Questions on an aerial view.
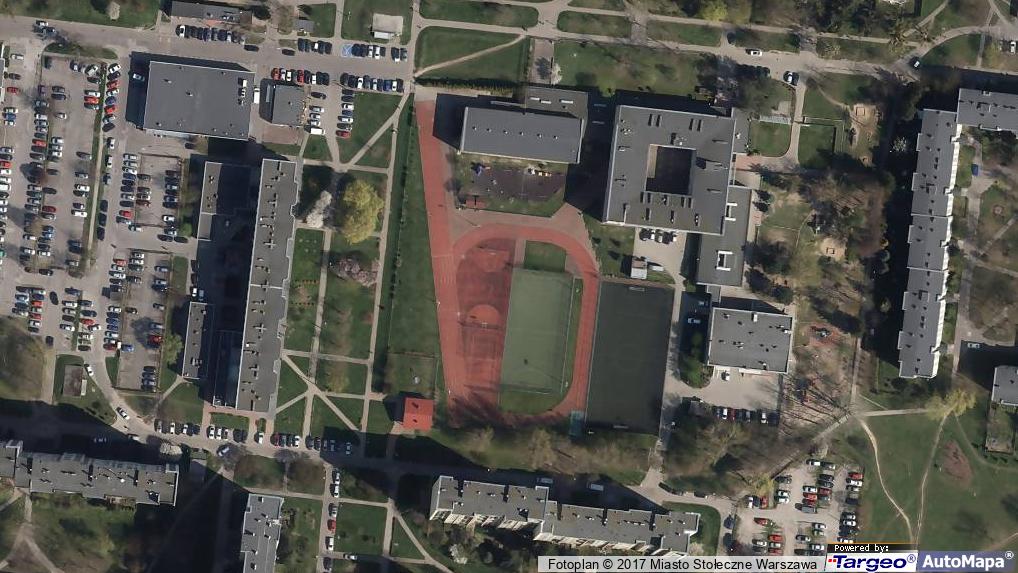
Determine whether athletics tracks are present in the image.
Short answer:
Yes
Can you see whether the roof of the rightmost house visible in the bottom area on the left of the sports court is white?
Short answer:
No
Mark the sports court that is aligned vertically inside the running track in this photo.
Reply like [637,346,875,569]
[456,239,517,412]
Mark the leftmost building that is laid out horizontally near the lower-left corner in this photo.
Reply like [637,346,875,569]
[0,441,185,513]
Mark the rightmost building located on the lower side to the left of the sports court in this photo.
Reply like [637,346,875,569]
[402,398,434,432]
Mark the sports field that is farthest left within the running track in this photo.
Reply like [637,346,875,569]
[500,268,574,392]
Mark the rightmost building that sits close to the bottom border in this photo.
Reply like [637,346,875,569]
[543,501,700,564]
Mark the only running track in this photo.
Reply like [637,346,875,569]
[415,98,598,434]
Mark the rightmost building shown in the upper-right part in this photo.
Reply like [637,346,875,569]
[955,88,1018,138]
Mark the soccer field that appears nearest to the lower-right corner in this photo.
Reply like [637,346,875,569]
[587,281,674,435]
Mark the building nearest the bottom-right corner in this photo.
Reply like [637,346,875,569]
[987,367,1018,411]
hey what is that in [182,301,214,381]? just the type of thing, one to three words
building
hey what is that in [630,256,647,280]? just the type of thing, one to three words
shed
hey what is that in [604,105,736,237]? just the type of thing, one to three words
building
